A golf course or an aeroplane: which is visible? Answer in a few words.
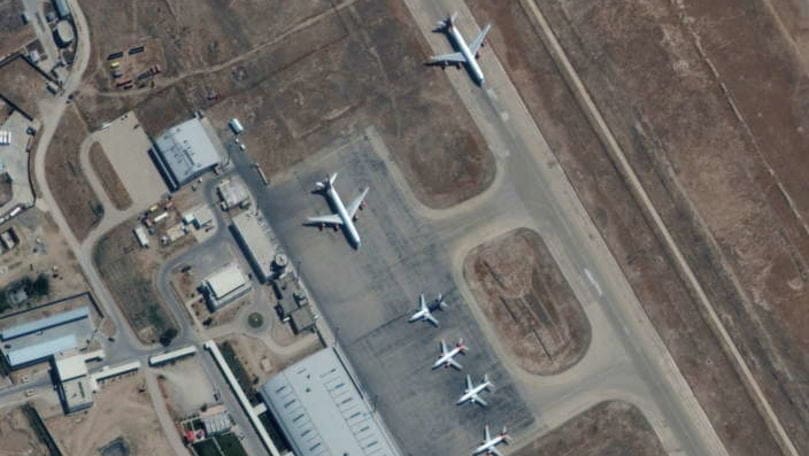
aeroplane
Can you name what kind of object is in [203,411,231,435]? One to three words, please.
house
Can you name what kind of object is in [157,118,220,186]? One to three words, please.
hangar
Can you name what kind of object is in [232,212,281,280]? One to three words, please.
building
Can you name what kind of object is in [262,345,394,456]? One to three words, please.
building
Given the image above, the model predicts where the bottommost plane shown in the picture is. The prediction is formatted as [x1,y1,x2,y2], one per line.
[472,428,509,456]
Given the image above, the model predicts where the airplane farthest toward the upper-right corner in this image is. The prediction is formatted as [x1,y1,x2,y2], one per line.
[431,13,493,82]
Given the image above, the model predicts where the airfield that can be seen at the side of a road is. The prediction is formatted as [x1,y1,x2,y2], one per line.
[226,0,726,456]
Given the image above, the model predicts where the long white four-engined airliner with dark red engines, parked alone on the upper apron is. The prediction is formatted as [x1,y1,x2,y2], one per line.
[307,176,371,247]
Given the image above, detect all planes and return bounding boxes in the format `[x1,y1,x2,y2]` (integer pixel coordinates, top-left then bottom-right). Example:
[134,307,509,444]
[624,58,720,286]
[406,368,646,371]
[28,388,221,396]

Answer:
[431,13,493,82]
[433,339,469,369]
[307,176,371,247]
[457,376,493,406]
[472,428,509,456]
[408,293,446,325]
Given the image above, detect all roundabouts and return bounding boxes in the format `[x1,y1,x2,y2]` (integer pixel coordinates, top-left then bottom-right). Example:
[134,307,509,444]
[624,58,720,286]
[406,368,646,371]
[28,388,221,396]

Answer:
[240,305,271,335]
